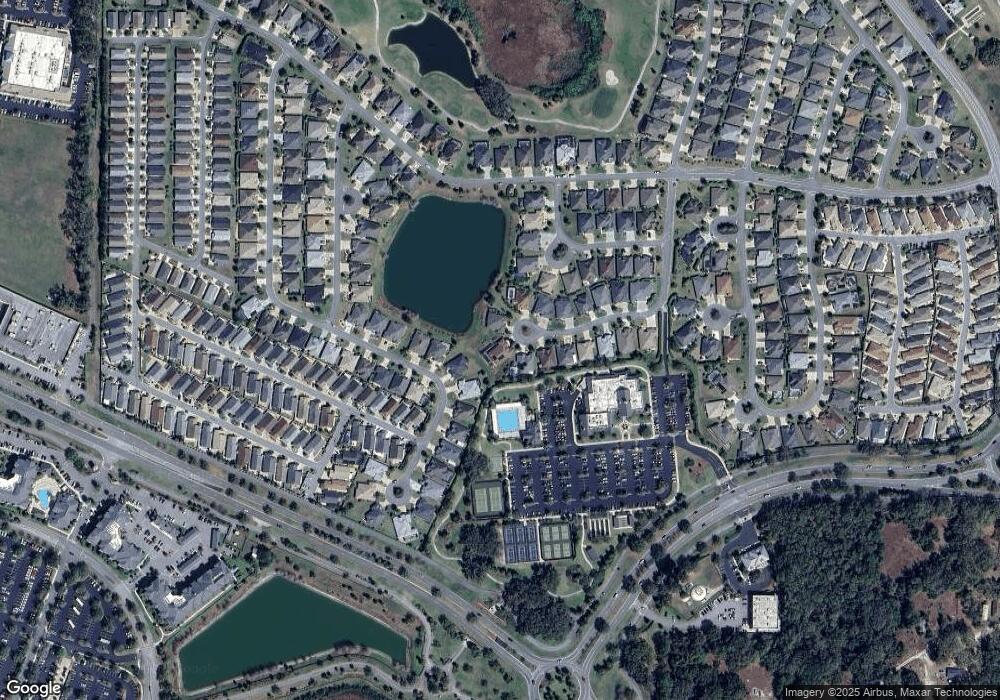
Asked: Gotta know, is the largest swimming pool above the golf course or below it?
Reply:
below it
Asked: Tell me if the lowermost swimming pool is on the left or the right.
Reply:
left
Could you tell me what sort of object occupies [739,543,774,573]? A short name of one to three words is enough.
building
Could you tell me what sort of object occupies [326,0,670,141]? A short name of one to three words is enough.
golf course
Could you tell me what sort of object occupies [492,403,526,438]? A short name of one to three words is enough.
swimming pool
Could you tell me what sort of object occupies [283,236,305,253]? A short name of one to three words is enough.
house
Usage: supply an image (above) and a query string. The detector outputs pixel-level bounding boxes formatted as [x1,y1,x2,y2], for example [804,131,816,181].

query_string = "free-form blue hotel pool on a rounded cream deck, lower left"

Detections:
[28,475,60,515]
